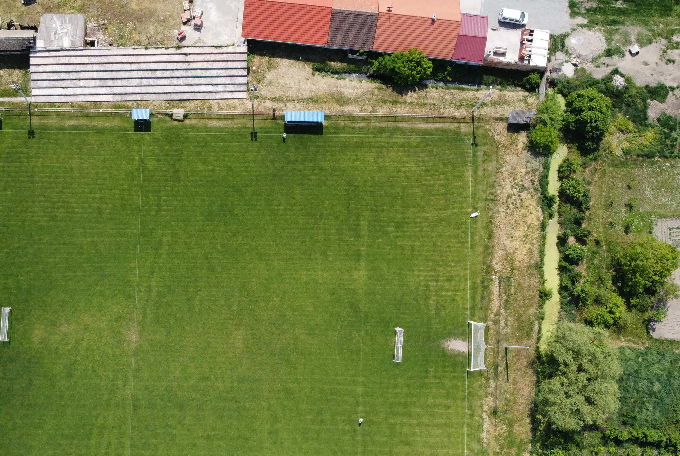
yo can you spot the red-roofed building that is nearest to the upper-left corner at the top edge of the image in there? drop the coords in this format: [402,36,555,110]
[242,0,332,52]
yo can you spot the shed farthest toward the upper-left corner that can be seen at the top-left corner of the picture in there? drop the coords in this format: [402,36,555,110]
[0,30,37,54]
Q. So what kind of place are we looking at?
sports ground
